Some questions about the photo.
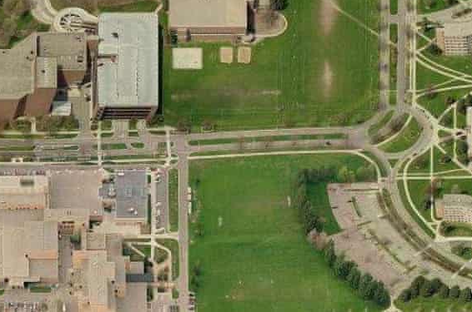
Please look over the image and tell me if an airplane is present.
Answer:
No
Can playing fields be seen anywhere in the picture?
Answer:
Yes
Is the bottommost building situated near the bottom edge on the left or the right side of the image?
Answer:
left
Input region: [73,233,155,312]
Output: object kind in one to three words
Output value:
building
